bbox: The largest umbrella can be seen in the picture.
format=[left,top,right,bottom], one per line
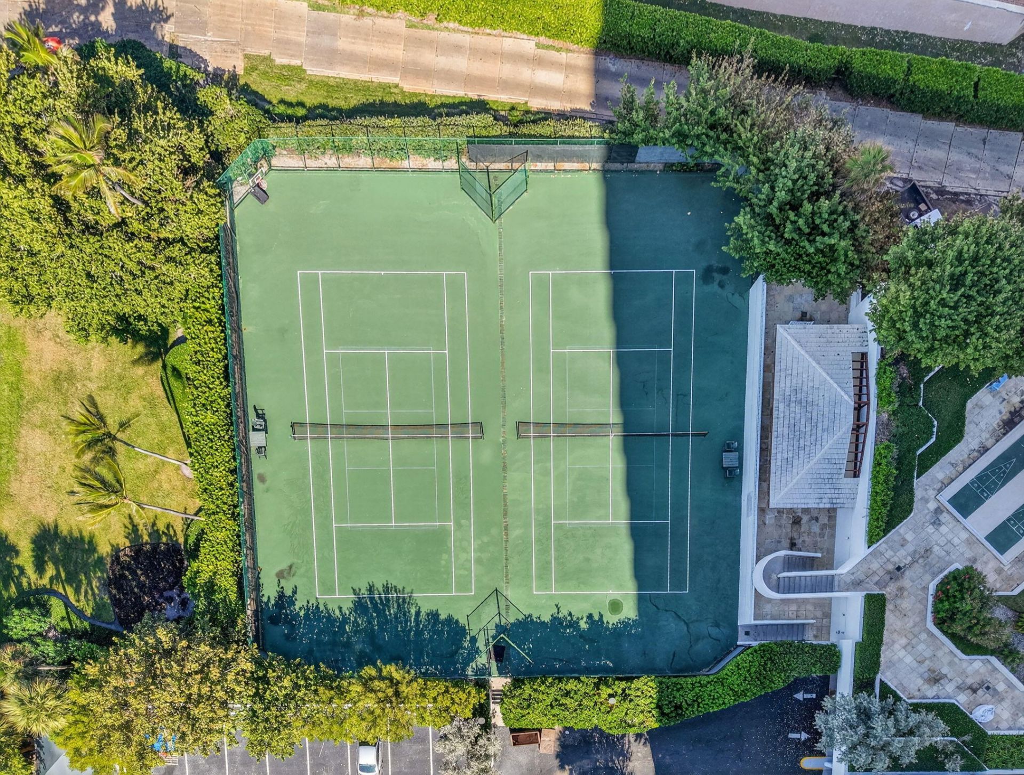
[971,704,1000,724]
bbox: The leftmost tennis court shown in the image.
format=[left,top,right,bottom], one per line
[234,170,510,683]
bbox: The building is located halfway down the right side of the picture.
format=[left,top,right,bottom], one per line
[768,323,872,510]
